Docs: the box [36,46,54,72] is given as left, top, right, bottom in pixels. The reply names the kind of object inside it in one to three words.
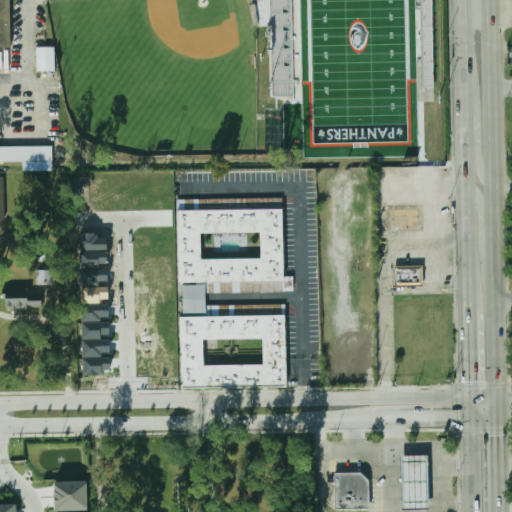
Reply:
shed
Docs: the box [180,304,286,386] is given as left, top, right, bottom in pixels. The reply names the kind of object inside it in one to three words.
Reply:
building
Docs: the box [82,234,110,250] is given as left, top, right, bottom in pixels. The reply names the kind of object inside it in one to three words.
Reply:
house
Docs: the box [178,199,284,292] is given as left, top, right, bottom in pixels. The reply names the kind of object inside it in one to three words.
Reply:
building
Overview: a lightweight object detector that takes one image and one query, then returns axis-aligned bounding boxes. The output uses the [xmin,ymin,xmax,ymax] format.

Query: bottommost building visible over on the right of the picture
[335,472,369,510]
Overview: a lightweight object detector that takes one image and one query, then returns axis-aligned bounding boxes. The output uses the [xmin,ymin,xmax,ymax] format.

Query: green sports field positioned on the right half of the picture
[302,0,416,157]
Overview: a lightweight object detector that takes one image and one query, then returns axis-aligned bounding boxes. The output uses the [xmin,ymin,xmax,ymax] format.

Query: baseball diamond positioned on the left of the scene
[47,0,257,156]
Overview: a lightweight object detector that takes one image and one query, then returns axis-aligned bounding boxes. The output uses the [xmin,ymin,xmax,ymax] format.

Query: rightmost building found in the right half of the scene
[396,266,422,286]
